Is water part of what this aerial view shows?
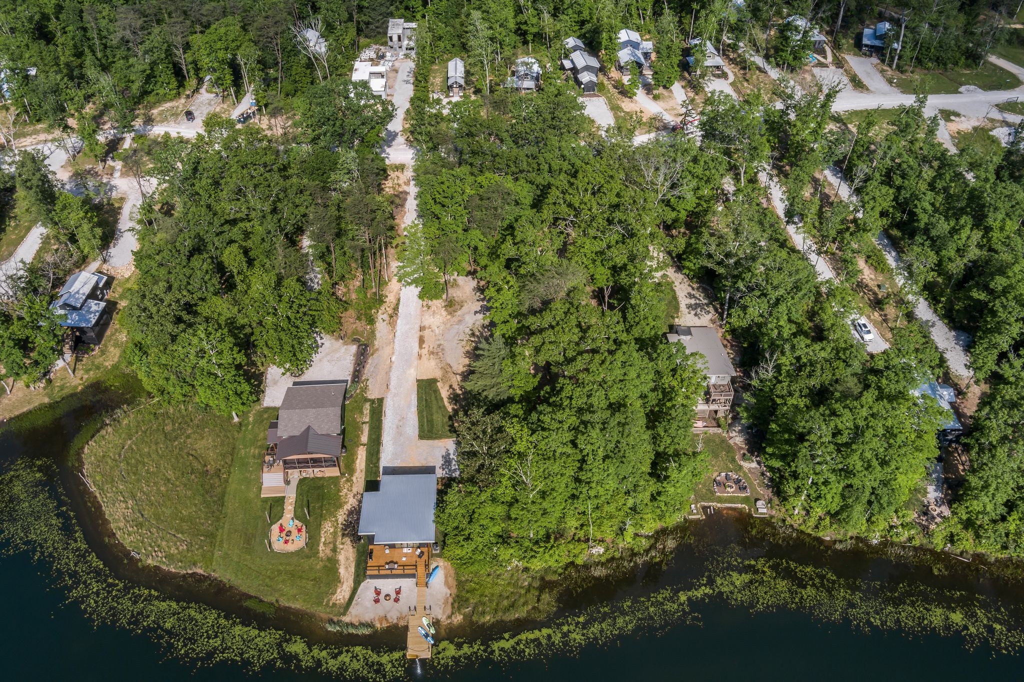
Yes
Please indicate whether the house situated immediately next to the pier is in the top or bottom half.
bottom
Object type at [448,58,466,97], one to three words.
house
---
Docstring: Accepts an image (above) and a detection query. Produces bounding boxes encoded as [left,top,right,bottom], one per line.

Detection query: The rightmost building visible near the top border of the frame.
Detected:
[858,18,899,57]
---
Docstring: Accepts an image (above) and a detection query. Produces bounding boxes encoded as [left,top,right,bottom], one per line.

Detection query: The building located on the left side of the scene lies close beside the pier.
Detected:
[358,474,440,560]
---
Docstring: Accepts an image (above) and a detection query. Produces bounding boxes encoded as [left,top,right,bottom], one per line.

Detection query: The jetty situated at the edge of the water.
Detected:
[405,587,432,659]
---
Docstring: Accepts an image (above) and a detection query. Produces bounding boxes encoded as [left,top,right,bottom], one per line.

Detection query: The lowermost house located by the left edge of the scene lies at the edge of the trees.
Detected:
[49,271,119,348]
